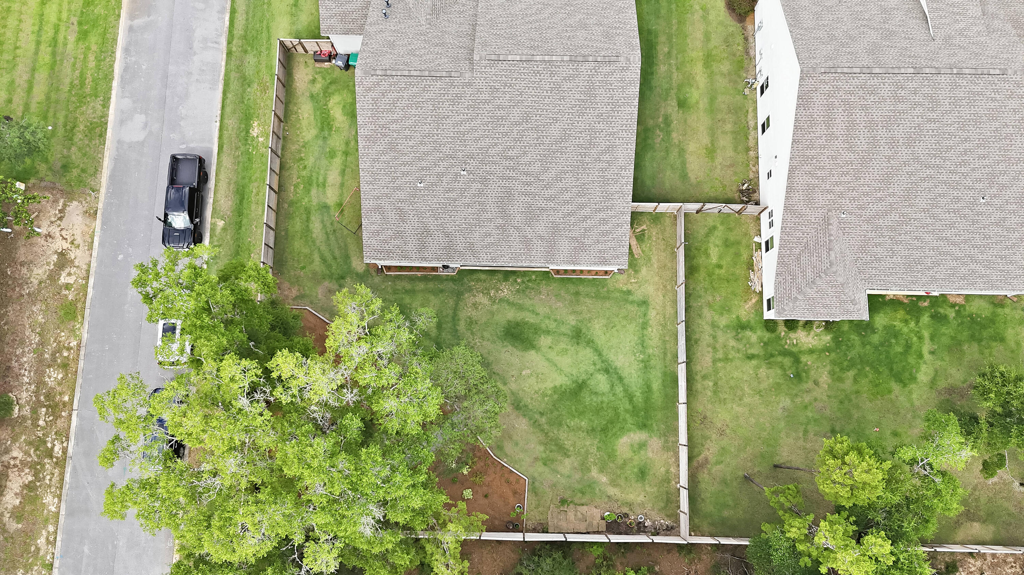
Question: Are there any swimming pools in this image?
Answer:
No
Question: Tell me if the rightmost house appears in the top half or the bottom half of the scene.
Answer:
top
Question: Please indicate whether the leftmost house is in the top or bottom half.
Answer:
top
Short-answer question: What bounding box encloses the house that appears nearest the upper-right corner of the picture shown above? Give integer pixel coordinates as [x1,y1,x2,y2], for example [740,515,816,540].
[753,0,1024,323]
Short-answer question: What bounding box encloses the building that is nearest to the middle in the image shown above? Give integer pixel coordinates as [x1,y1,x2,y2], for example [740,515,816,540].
[318,0,642,276]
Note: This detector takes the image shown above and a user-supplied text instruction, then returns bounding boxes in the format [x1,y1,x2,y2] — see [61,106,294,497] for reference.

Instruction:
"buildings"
[318,0,642,276]
[753,0,1024,323]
